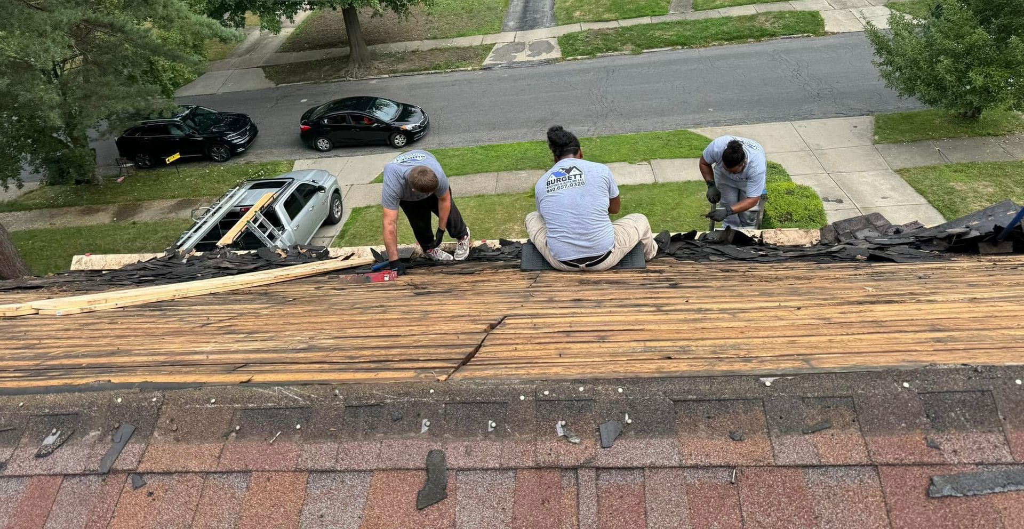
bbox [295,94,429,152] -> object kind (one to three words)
car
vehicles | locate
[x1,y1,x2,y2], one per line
[203,170,347,249]
[295,94,429,152]
[105,98,257,169]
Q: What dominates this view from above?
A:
buildings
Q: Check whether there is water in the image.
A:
No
